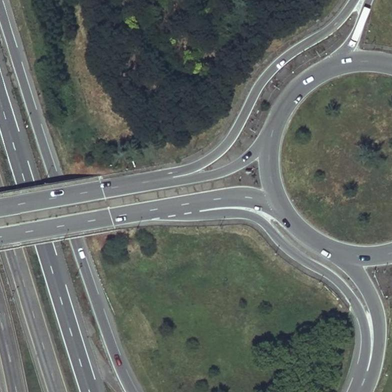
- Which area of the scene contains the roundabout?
right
